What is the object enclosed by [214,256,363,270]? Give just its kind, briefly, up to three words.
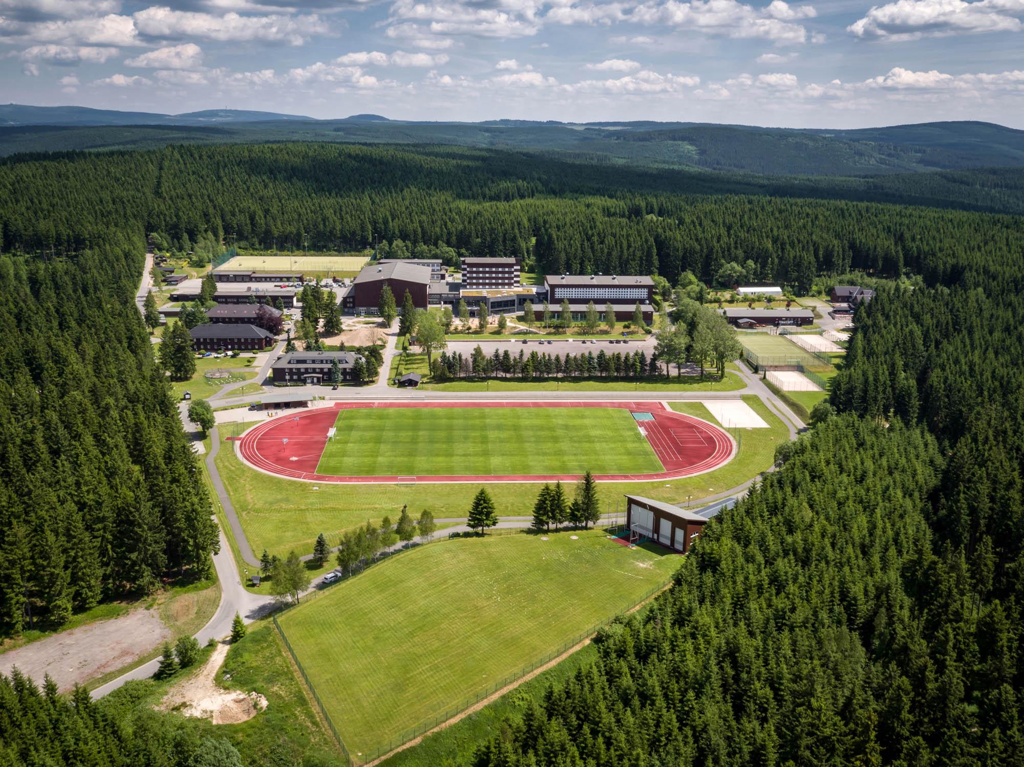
sports field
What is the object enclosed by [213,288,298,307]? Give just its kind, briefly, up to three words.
building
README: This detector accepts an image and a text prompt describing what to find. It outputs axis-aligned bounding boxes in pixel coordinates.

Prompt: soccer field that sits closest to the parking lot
[316,408,665,475]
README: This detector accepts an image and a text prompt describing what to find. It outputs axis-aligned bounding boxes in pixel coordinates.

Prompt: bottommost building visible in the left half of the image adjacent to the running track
[259,388,313,410]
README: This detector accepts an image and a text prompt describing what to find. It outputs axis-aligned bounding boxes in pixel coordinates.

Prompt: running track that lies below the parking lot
[240,406,731,482]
